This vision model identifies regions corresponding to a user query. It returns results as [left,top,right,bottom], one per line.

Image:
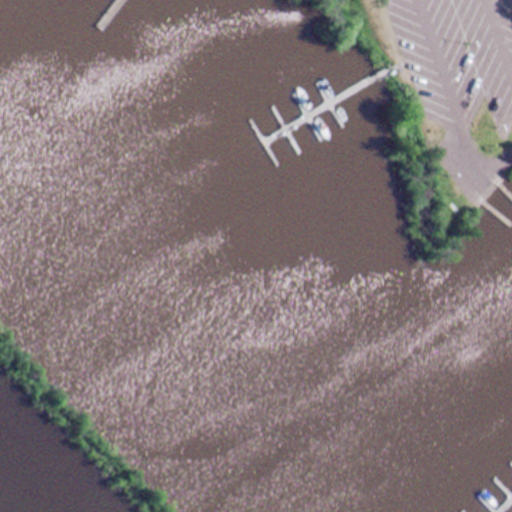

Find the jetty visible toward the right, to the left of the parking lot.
[249,70,389,166]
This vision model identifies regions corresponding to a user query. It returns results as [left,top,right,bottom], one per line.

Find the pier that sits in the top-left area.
[97,0,127,31]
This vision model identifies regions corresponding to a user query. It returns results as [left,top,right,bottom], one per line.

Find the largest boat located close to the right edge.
[480,486,499,507]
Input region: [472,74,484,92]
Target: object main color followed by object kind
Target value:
white vehicle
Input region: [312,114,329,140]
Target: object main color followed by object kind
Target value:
white boat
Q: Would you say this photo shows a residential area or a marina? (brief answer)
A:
marina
